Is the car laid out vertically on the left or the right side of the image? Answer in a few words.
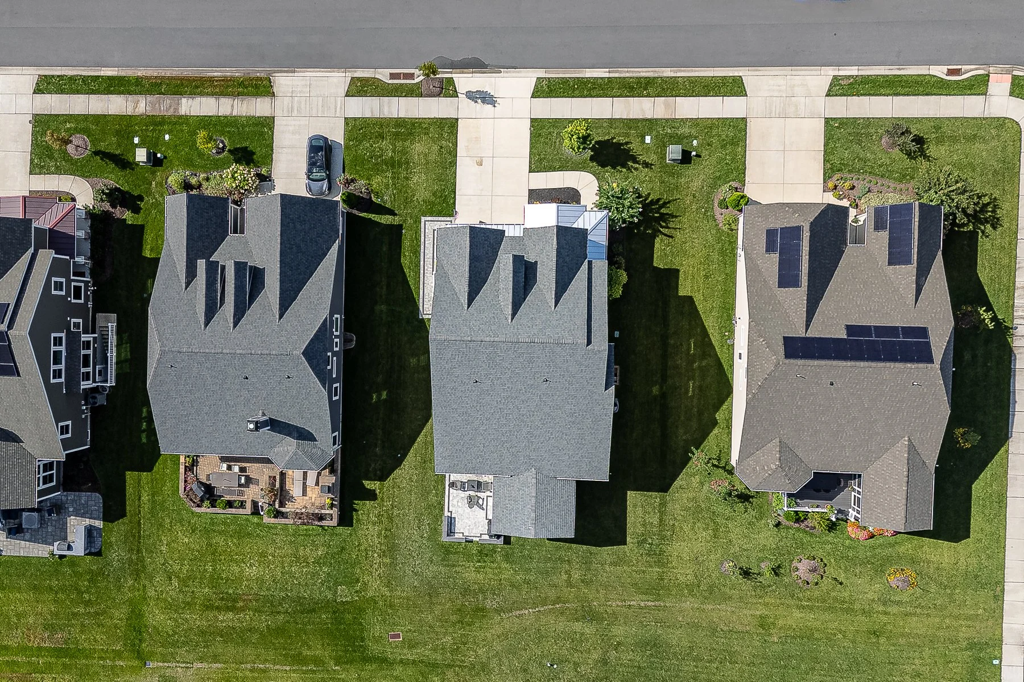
left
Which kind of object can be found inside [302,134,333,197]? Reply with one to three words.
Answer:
car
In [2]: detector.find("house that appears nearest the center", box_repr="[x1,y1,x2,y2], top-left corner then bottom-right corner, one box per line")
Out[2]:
[430,204,615,538]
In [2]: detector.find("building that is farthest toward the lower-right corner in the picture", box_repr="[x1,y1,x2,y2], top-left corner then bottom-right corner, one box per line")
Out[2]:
[727,202,955,531]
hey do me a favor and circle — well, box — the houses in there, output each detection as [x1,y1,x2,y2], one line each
[146,193,348,472]
[727,202,955,531]
[0,192,101,536]
[430,204,615,538]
